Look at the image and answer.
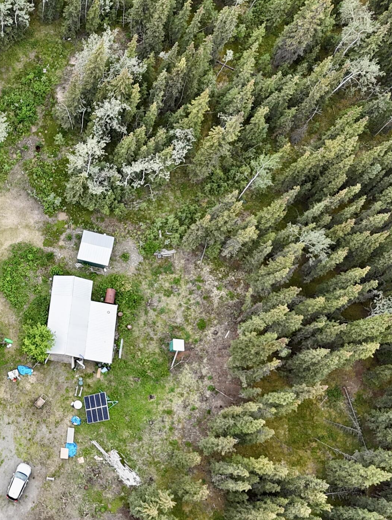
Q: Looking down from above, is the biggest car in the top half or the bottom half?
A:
bottom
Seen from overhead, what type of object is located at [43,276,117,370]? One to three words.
building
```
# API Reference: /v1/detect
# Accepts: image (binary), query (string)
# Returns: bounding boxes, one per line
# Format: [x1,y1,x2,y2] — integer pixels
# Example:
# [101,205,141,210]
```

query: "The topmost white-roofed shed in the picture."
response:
[78,230,114,267]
